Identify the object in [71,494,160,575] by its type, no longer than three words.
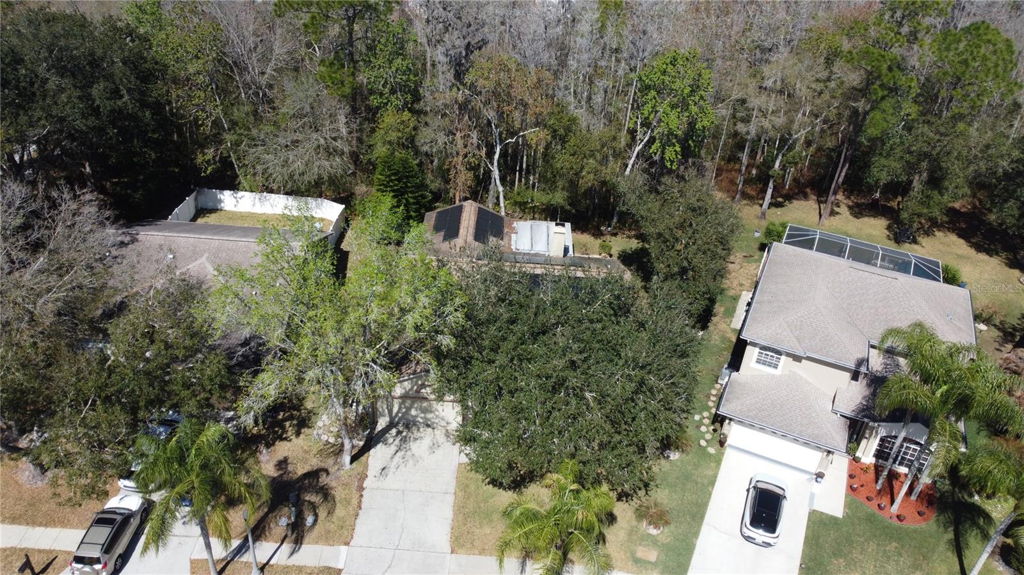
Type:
car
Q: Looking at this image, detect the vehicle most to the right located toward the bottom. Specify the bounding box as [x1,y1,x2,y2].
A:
[739,473,790,549]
